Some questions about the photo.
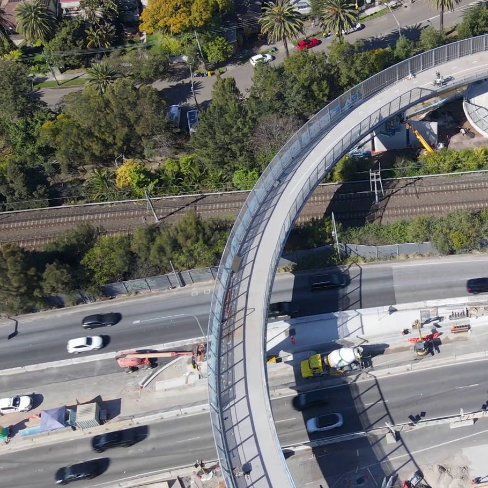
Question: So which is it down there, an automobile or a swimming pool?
automobile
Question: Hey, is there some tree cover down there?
Yes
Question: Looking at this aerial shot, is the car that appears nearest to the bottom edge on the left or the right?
left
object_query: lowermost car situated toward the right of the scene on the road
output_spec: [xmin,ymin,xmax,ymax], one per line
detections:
[305,413,345,436]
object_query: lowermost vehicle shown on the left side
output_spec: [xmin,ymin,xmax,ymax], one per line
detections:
[55,459,102,485]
